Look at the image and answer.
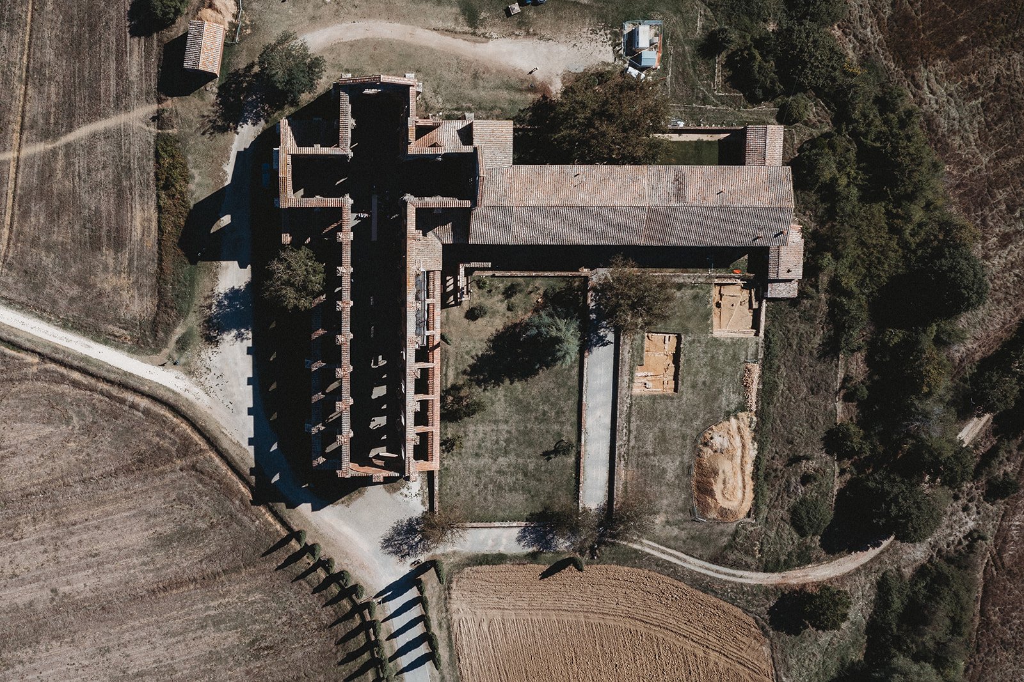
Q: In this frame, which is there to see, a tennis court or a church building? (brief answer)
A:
church building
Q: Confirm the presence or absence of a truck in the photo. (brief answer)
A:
No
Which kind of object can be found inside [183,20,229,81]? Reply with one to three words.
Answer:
barn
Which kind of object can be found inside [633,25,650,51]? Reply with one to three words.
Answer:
building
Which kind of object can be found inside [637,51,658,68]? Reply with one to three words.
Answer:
shed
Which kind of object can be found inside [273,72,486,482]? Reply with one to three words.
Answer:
church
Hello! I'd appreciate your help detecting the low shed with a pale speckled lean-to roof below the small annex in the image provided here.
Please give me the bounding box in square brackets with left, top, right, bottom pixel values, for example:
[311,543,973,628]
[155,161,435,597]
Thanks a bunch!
[759,279,798,297]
